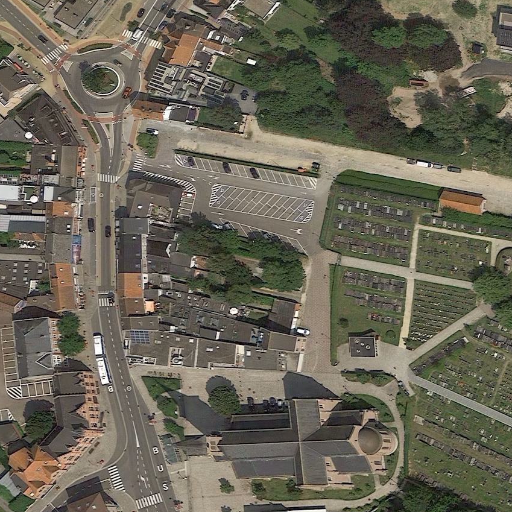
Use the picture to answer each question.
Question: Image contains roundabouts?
Yes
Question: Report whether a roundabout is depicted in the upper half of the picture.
Yes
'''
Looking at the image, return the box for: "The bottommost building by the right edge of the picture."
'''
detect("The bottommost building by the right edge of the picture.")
[439,190,489,214]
